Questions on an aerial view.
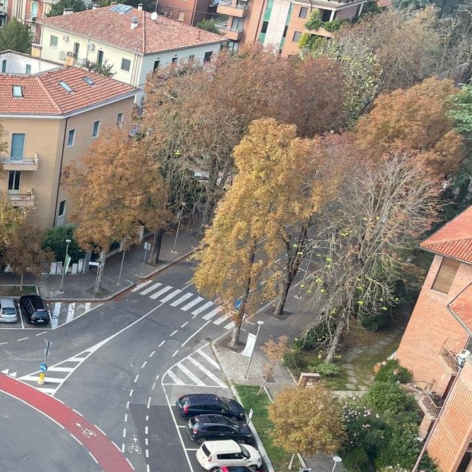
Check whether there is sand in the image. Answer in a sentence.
No, the picture contains no sand.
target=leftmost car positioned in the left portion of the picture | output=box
[0,293,19,320]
